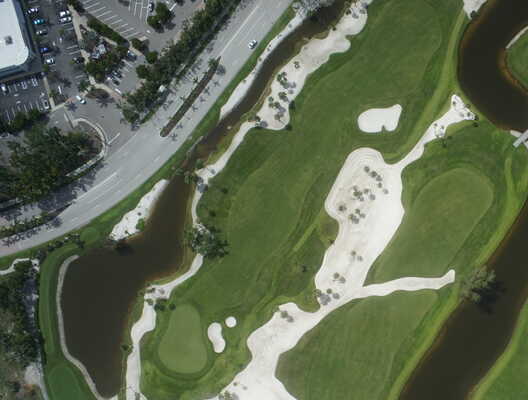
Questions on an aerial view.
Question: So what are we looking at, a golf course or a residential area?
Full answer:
This looks like a golf course.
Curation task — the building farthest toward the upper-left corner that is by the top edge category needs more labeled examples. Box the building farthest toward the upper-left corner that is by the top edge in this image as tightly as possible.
[0,0,40,77]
